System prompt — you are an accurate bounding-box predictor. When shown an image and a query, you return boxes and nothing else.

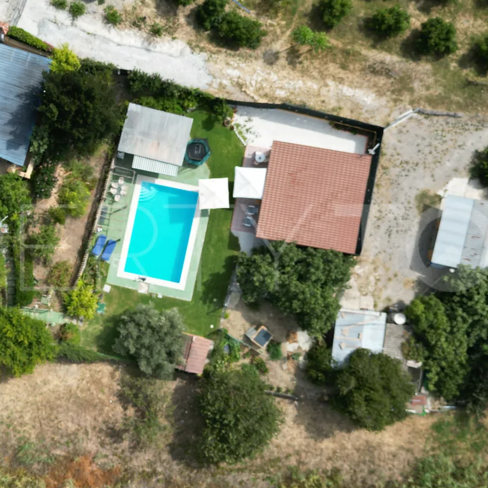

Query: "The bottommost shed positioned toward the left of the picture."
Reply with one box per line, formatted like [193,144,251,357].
[173,334,212,375]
